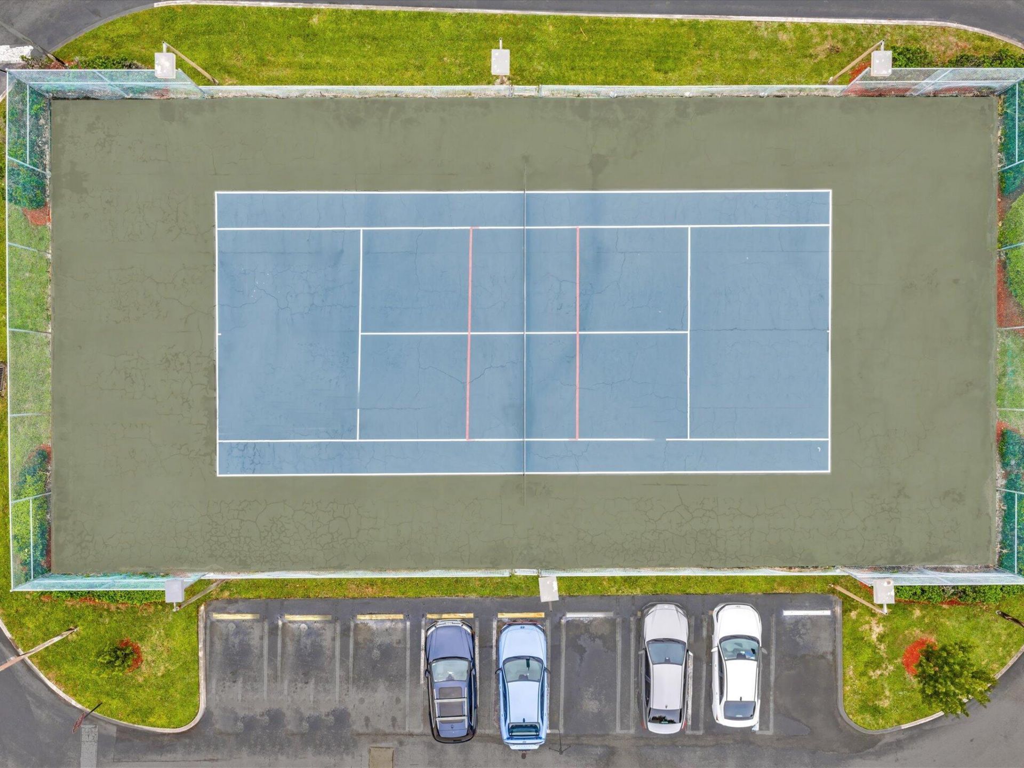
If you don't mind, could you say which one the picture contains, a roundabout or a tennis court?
tennis court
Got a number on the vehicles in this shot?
4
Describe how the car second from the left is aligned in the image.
up and down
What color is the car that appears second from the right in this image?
white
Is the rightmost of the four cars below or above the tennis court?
below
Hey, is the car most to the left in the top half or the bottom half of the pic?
bottom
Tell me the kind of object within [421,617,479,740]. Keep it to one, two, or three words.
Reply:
car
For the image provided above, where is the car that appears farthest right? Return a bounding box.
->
[709,601,768,725]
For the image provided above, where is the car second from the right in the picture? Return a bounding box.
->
[638,600,696,731]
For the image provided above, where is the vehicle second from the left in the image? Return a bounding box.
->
[495,620,552,756]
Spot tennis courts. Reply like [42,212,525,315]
[48,95,1000,574]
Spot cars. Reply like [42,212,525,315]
[495,620,552,756]
[709,601,768,725]
[421,617,479,740]
[638,600,696,731]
